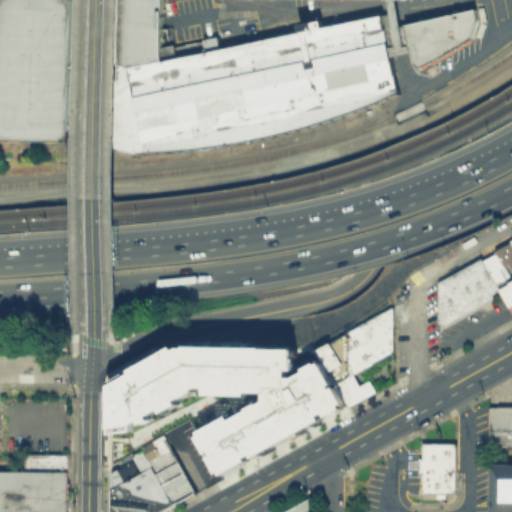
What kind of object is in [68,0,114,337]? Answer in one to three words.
overpass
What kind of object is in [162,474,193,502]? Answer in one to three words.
building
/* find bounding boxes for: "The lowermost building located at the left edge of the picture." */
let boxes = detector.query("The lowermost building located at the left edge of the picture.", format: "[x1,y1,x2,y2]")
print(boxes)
[0,472,68,512]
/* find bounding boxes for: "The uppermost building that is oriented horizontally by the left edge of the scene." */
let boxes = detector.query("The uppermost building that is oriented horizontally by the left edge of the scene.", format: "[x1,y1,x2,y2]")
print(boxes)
[25,454,68,470]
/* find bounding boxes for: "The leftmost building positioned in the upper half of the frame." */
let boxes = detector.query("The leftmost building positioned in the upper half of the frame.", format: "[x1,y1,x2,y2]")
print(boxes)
[0,0,67,139]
